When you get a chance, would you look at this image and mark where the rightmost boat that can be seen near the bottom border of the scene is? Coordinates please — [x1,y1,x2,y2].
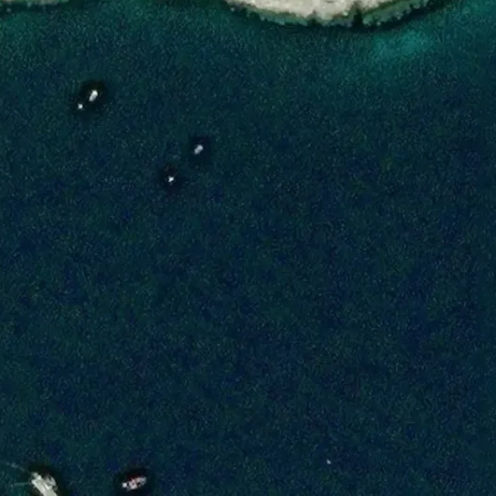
[126,475,147,487]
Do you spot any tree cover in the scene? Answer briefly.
No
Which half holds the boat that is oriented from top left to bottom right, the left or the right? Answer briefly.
left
